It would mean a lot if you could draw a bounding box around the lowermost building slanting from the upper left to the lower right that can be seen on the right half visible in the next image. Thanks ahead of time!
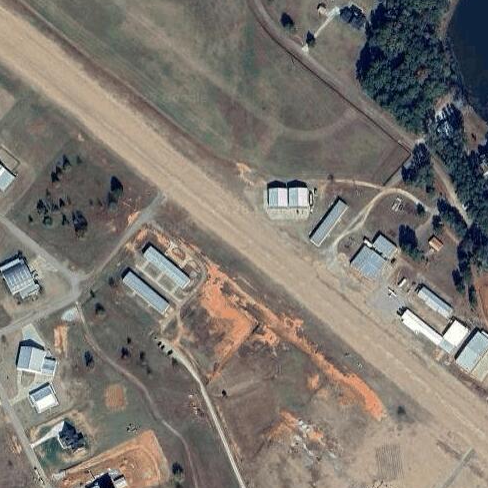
[402,310,442,346]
